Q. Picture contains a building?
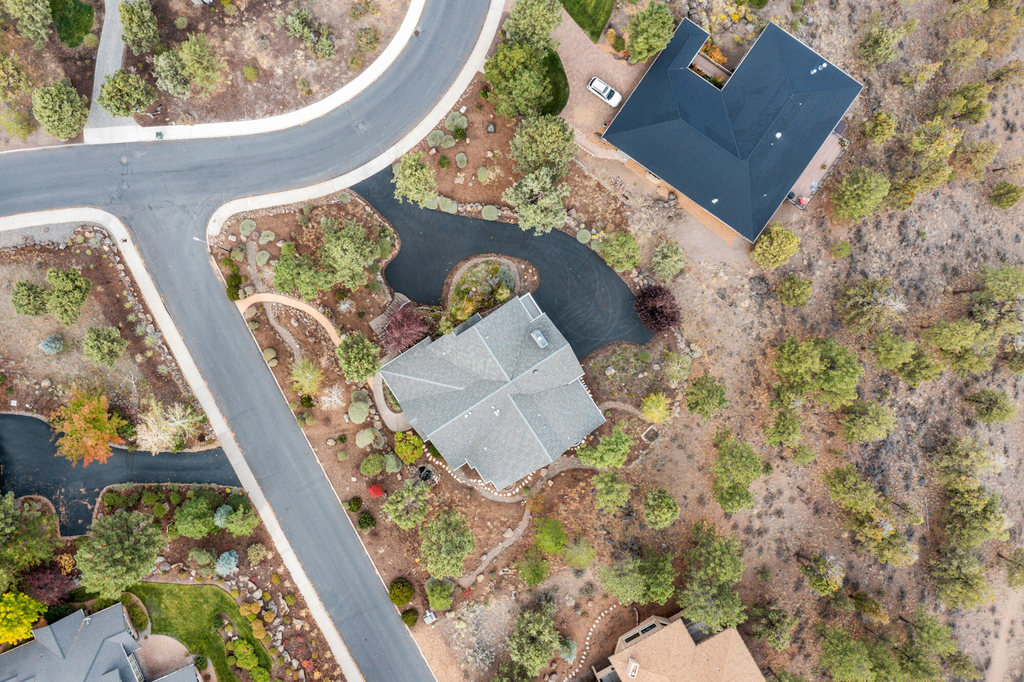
Yes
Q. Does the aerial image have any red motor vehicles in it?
No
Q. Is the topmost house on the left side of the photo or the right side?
right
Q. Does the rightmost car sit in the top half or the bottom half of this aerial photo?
top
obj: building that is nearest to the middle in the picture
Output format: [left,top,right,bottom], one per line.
[379,293,607,492]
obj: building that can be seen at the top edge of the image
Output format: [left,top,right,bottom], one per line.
[601,17,864,244]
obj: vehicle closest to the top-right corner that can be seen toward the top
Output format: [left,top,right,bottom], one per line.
[586,75,623,108]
